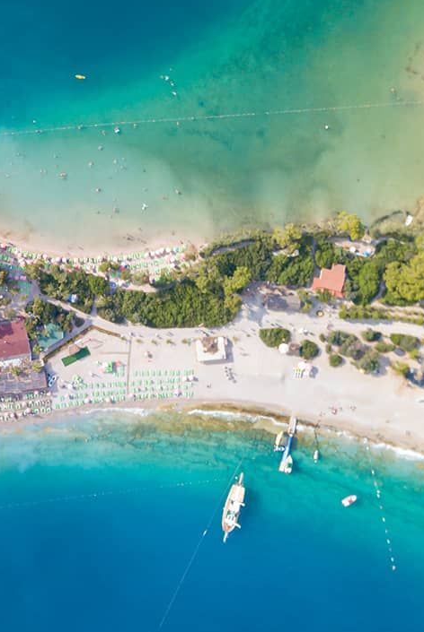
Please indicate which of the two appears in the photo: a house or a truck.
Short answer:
house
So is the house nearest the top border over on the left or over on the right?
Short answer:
right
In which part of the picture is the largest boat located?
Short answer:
bottom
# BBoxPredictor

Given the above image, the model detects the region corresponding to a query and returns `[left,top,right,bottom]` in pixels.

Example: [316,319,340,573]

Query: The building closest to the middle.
[195,337,226,362]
